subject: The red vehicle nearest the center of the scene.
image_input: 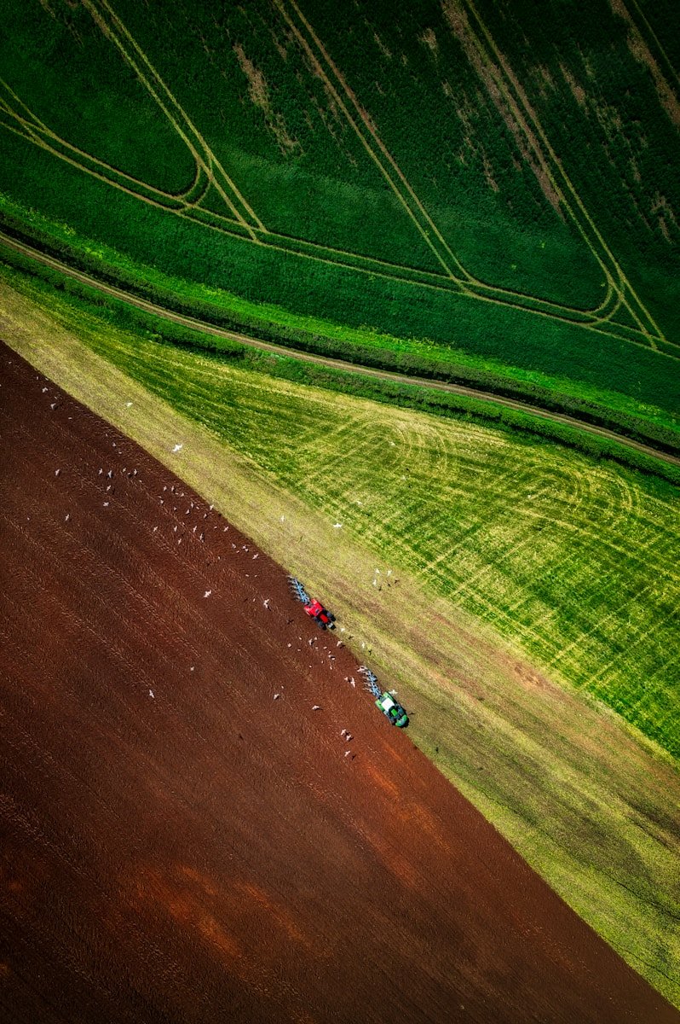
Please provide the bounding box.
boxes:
[304,598,334,629]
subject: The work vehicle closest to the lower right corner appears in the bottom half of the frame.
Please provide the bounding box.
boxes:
[376,691,408,726]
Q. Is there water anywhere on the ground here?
No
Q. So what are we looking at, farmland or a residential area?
farmland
